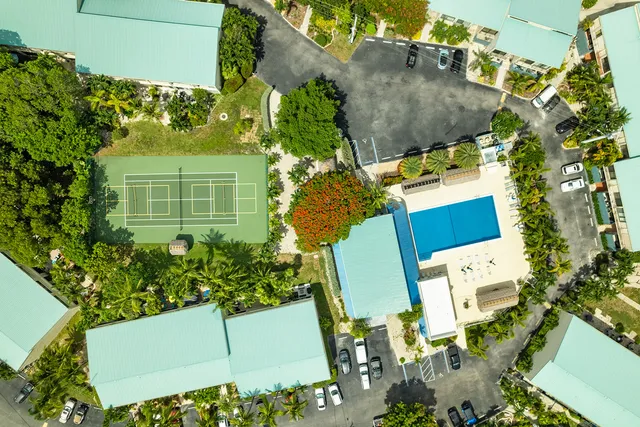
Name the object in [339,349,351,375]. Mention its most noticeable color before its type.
gray vehicle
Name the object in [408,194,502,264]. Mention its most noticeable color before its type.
blue swimming pool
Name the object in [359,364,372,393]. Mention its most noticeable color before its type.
white vehicle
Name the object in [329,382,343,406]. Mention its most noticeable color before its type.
white car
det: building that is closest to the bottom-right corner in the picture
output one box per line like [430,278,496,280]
[524,312,640,427]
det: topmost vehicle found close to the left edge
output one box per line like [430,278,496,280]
[10,379,36,406]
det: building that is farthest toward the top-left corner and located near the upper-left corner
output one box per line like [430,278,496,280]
[0,0,229,92]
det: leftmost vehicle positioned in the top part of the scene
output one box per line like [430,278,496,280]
[404,43,419,69]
